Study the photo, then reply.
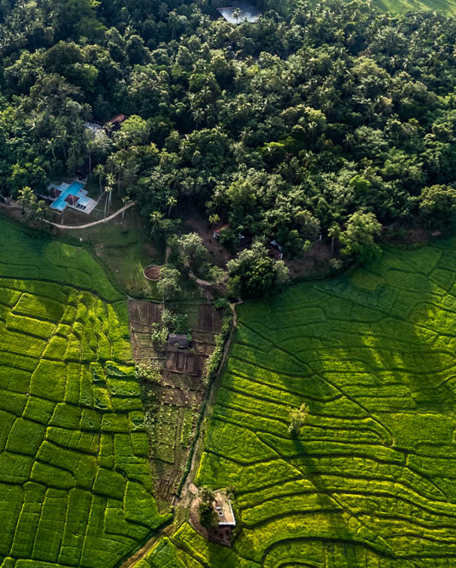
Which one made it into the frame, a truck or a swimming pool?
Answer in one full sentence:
Visible in the photo is a swimming pool.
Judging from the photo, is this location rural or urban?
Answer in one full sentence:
The area is rural.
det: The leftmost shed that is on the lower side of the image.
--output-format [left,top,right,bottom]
[168,334,190,350]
